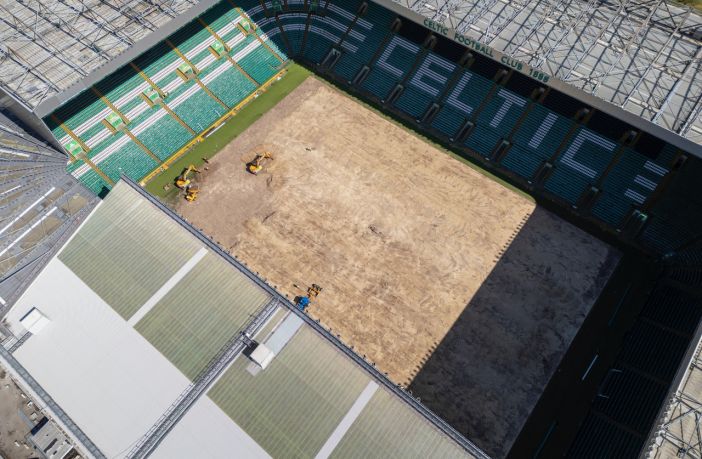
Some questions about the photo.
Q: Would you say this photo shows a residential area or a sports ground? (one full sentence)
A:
The picture captures a sports ground.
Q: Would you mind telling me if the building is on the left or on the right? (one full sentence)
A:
The building is on the left side of the image.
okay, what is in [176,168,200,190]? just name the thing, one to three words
work vehicle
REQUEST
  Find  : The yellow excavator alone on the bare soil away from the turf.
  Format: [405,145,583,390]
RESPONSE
[250,152,274,173]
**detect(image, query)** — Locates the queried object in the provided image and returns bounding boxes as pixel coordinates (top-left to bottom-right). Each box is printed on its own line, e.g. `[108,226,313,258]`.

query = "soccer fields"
[143,67,651,459]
